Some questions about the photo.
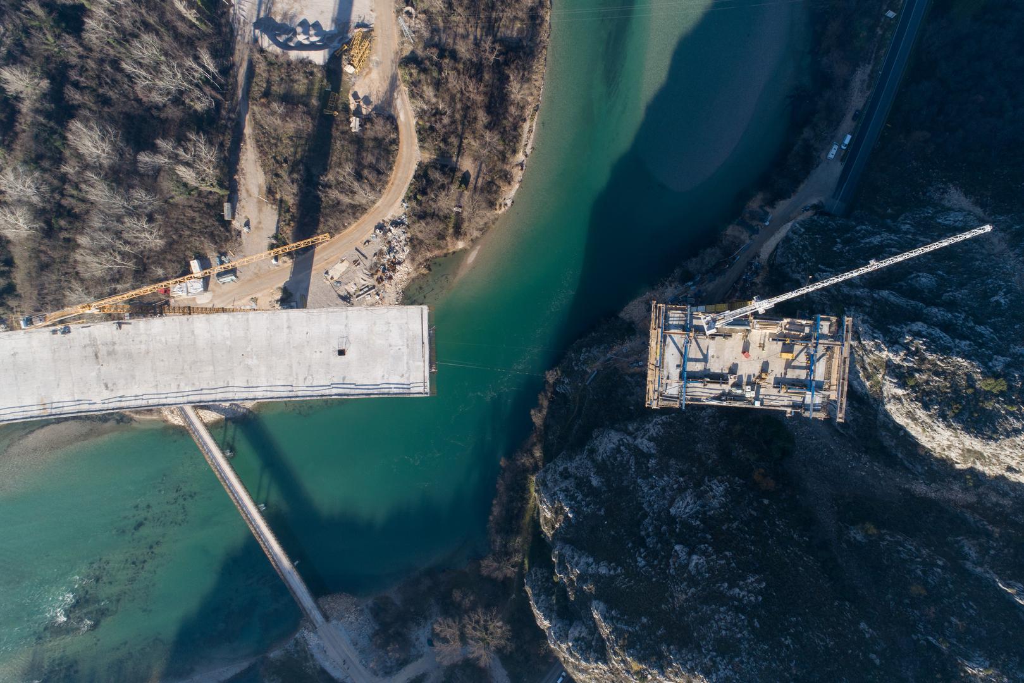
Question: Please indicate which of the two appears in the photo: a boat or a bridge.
bridge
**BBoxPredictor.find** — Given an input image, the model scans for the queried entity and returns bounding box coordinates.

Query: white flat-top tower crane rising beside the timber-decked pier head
[655,222,996,335]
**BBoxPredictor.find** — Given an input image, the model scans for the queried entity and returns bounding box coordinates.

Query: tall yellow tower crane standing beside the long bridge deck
[21,232,330,331]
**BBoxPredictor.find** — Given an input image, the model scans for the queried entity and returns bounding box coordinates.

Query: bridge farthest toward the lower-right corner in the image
[660,310,837,423]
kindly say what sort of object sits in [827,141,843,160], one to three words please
vehicle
